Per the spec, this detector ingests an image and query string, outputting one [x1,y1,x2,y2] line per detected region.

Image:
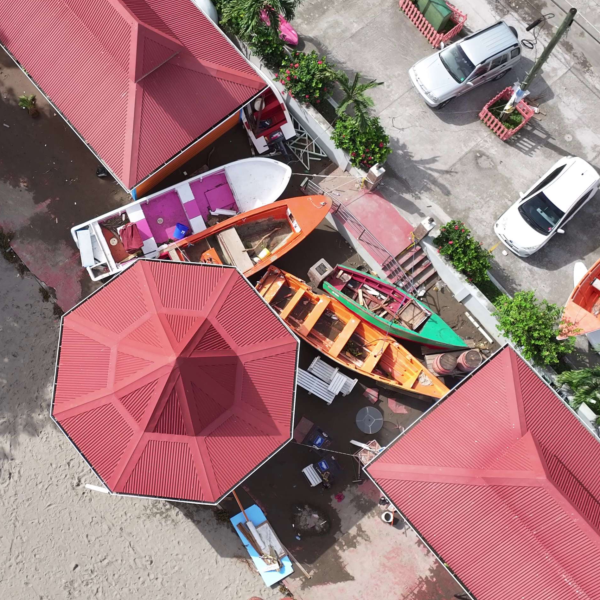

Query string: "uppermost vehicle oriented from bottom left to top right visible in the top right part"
[410,7,533,106]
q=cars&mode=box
[493,146,600,258]
[410,7,533,106]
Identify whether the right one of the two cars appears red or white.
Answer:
white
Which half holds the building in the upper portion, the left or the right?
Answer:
left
